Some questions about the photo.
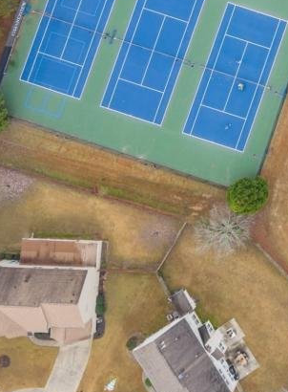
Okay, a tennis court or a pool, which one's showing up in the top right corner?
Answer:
tennis court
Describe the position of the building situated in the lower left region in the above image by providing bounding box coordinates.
[0,236,104,343]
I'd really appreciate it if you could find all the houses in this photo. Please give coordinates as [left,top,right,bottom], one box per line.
[133,314,238,392]
[0,236,104,343]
